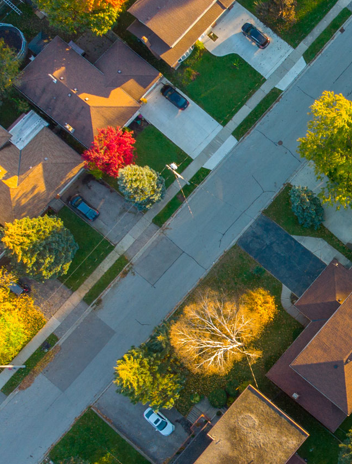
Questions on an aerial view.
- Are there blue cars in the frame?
Yes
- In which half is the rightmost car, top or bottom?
top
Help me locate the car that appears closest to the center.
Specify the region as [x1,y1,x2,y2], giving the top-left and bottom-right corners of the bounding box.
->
[67,192,103,225]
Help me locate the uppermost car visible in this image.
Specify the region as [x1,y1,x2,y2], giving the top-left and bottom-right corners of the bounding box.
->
[241,22,274,52]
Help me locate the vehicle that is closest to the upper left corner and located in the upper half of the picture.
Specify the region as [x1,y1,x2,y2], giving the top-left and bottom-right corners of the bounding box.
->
[158,83,192,113]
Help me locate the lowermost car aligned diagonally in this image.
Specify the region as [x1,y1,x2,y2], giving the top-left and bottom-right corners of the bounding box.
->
[140,404,179,438]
